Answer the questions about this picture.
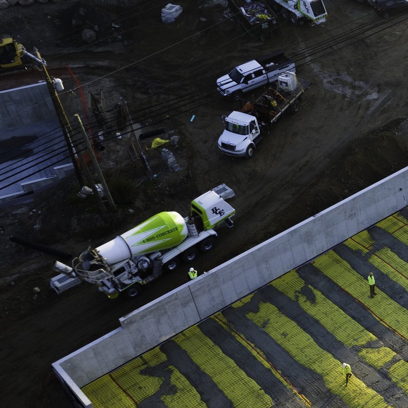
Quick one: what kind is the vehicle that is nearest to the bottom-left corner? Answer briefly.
truck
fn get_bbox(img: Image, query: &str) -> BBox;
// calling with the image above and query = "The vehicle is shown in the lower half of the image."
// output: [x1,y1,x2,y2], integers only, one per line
[61,194,247,305]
